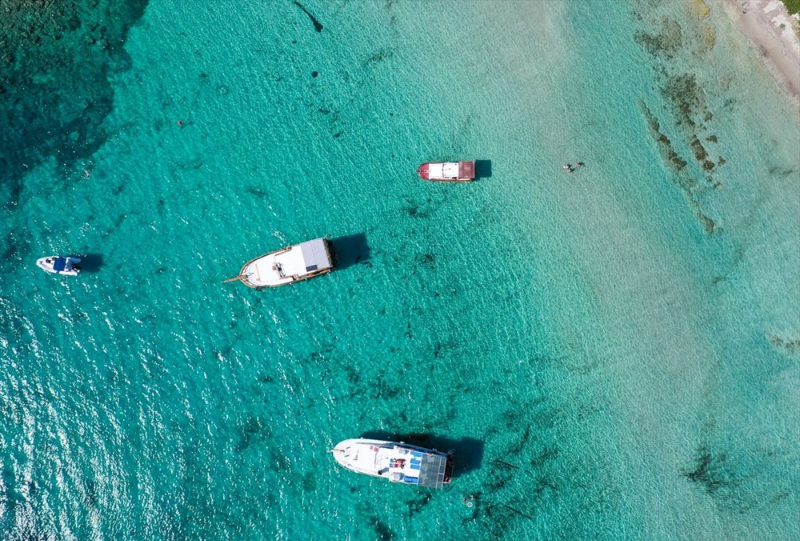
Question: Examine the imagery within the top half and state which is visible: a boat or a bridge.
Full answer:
It is a boat that can be seen within the top half.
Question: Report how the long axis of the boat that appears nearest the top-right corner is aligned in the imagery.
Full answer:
The boat that appears nearest the top-right corner has been laid out horizontally relative to the frame.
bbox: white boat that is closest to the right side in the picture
[417,161,477,182]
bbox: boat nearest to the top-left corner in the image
[36,256,81,277]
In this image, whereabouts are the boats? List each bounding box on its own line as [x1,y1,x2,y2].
[417,161,477,182]
[224,235,340,286]
[328,439,455,490]
[36,256,81,277]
